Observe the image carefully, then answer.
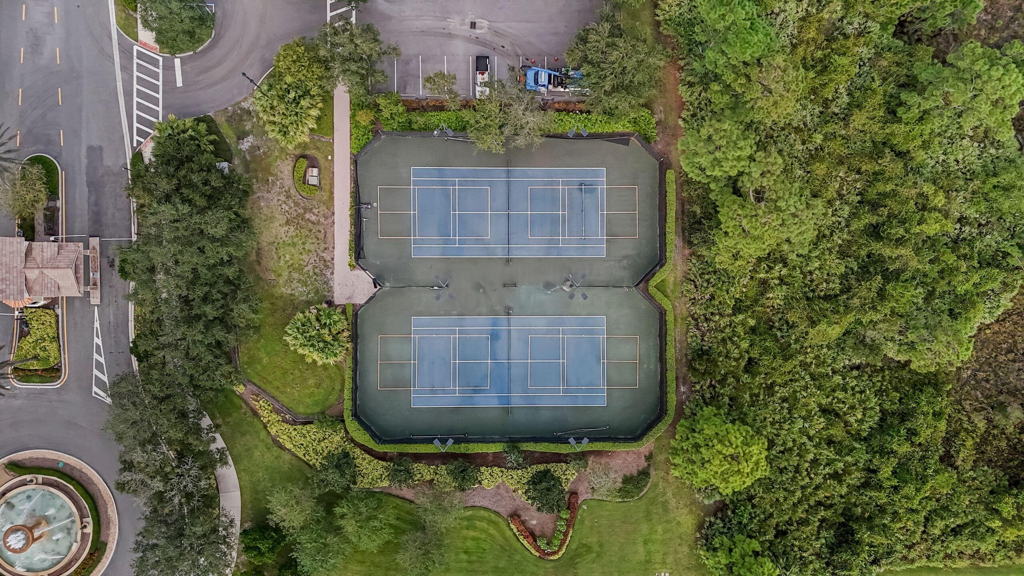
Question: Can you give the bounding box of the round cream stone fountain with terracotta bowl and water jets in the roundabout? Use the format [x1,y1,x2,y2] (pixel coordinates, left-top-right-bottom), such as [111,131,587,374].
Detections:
[0,476,90,576]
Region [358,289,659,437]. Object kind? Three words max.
tennis court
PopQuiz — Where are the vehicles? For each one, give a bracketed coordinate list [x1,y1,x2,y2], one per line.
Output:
[473,55,492,100]
[517,65,600,94]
